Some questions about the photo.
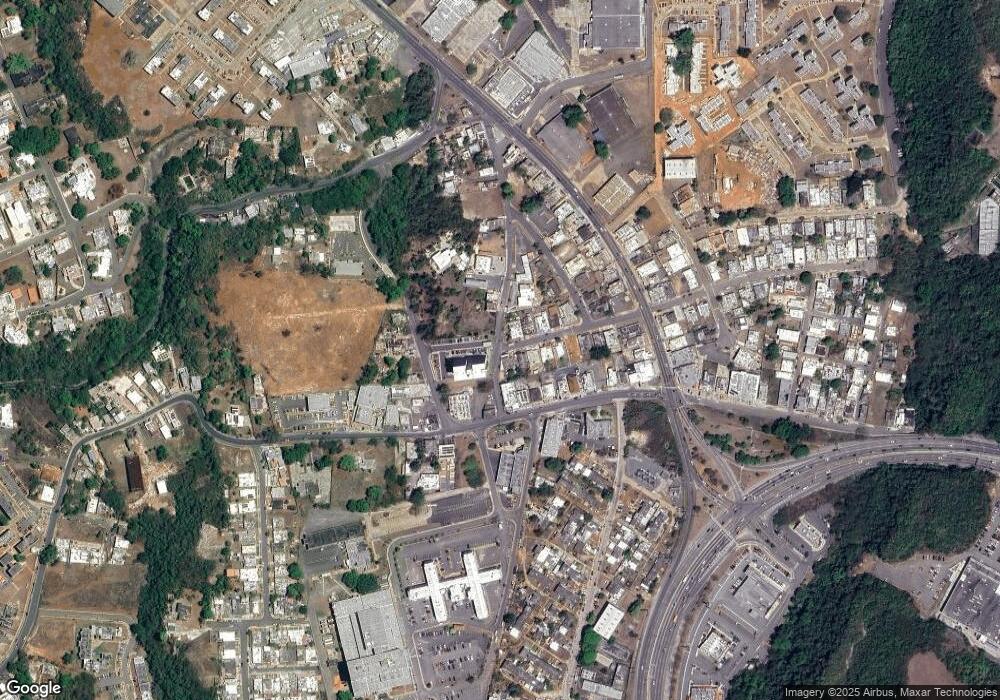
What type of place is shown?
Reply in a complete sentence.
What you see here is a residential area.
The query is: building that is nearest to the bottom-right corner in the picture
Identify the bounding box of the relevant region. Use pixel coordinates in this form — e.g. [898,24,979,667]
[934,562,1000,639]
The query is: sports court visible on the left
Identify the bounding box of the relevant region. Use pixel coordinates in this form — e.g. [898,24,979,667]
[329,216,355,231]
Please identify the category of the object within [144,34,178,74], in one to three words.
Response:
building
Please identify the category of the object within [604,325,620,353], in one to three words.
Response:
house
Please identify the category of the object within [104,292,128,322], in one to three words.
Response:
house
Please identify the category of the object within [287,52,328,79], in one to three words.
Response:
building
